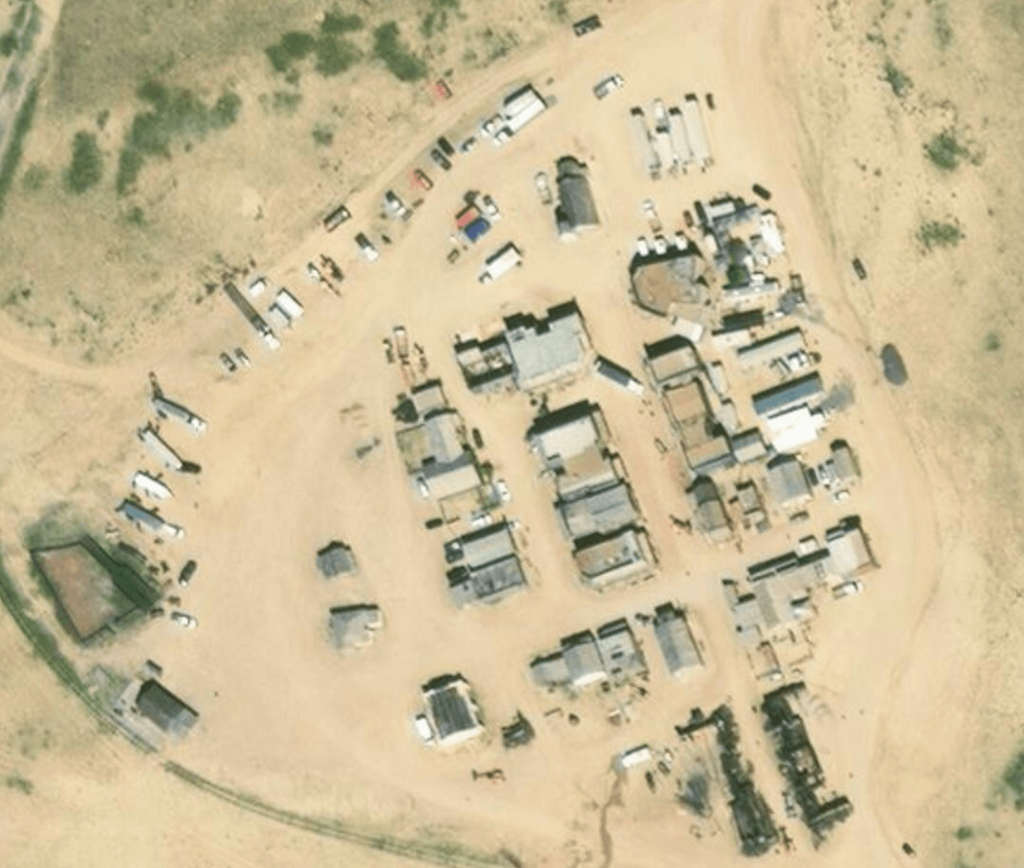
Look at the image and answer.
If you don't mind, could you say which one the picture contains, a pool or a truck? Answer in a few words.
truck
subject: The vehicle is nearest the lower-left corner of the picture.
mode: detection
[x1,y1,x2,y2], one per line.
[171,611,198,629]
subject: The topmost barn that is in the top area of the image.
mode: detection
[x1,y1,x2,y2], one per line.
[557,164,599,236]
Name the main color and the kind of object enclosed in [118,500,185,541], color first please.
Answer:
white camper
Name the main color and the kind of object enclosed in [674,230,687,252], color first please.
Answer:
white vehicle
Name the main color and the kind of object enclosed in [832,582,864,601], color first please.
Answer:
white vehicle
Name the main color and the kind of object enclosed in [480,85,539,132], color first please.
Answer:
white truck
